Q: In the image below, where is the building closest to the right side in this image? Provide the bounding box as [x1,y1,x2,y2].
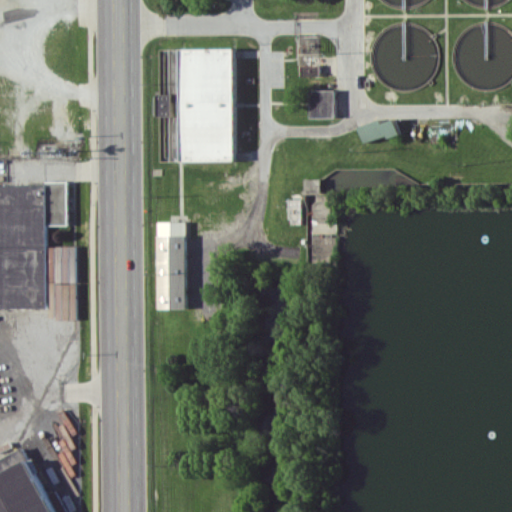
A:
[357,120,400,144]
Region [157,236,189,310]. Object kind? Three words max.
shed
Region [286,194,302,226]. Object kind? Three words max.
house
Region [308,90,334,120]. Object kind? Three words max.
building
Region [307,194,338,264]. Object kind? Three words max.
building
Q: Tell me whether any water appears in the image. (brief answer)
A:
Yes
